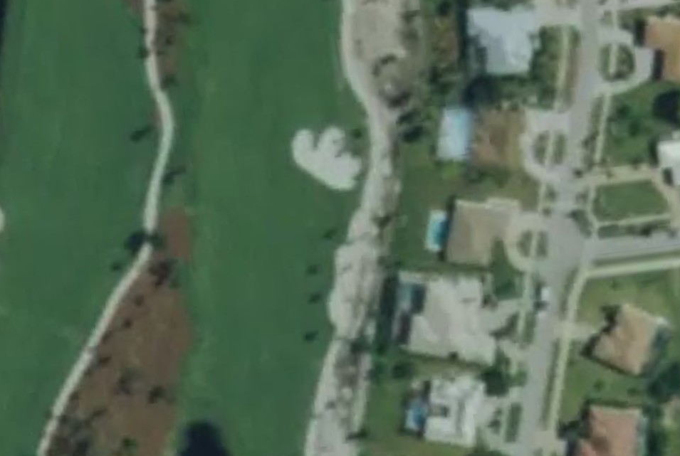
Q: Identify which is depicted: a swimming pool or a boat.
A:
swimming pool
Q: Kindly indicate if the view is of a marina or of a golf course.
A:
golf course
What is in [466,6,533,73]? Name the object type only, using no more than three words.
house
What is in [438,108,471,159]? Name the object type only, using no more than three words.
swimming pool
